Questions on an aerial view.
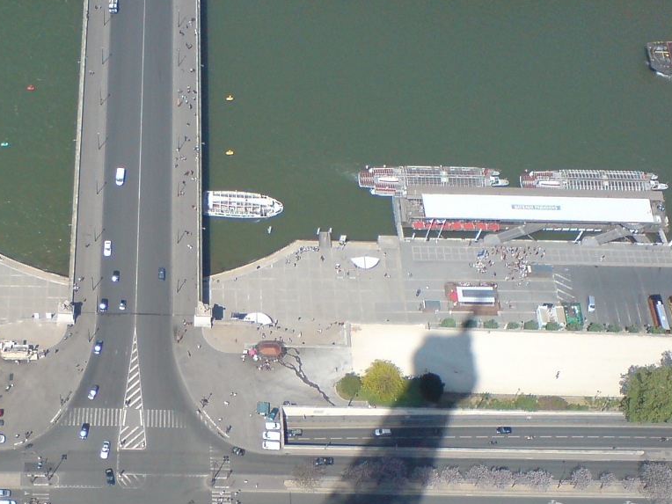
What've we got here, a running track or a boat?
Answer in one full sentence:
Of the two, only a boat appears.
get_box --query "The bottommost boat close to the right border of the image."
[522,167,671,197]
